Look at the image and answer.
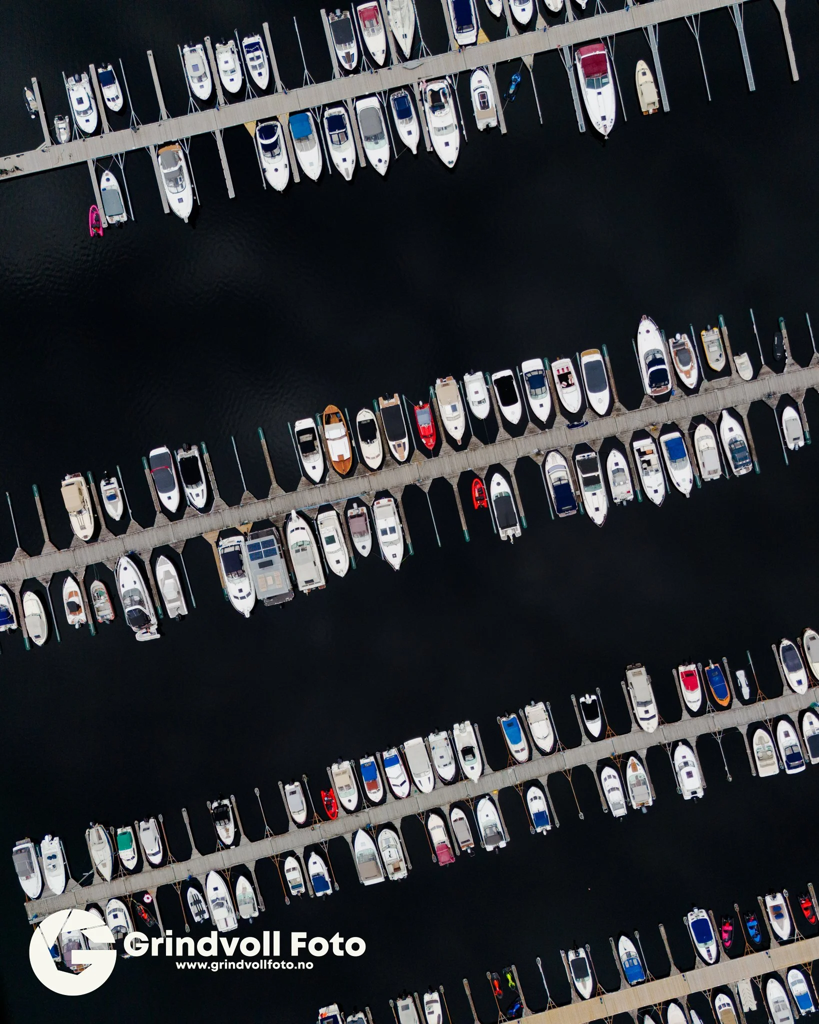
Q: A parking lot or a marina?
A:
marina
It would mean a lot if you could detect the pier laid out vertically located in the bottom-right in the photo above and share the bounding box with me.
[738,978,757,1011]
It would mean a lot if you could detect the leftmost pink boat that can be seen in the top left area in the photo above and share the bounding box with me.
[88,205,103,237]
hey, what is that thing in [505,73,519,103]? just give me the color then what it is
blue boat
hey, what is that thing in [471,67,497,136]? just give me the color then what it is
white boat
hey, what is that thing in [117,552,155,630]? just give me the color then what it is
white boat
